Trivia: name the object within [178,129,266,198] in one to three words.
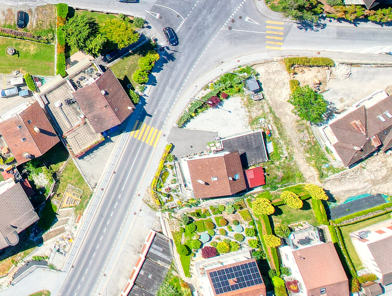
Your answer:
house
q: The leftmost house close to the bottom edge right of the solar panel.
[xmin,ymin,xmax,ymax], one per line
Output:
[282,222,350,296]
